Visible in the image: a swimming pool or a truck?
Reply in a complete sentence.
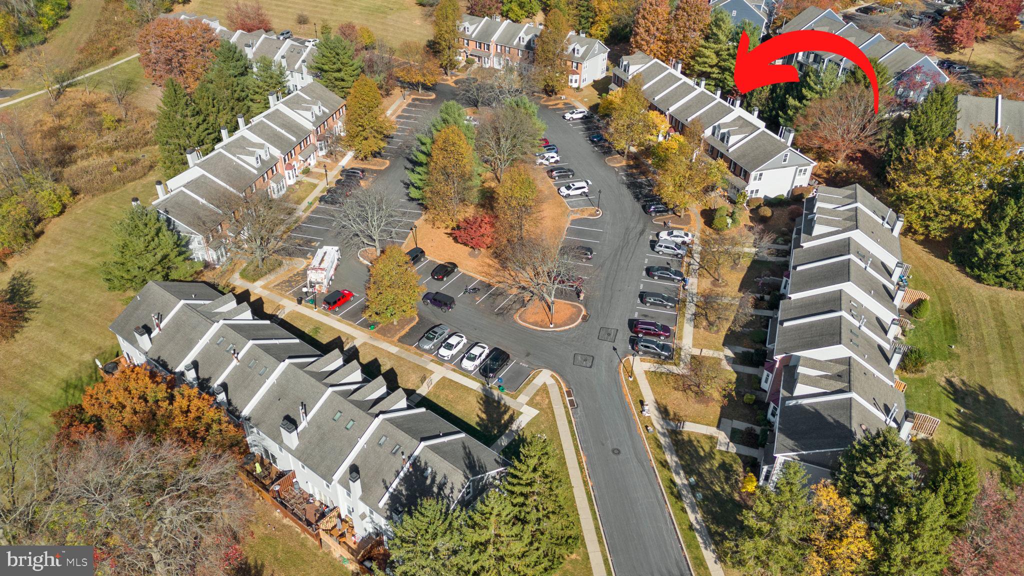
There is a truck in the scene.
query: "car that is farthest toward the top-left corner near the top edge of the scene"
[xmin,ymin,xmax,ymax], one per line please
[277,27,292,39]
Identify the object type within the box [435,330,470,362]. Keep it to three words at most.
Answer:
car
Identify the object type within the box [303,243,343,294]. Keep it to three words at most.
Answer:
truck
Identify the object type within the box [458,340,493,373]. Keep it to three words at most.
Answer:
car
